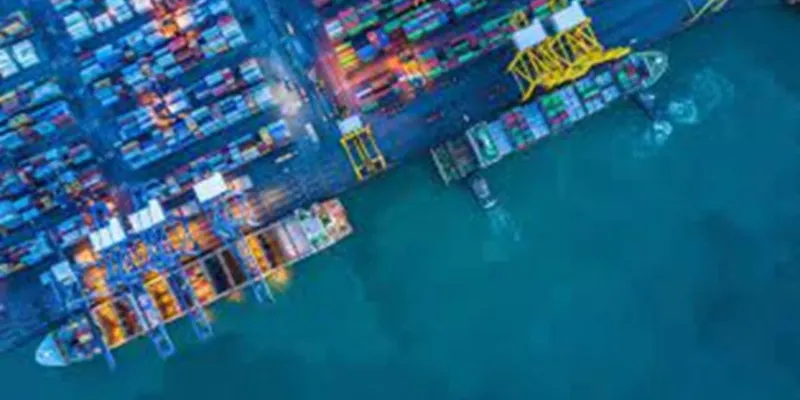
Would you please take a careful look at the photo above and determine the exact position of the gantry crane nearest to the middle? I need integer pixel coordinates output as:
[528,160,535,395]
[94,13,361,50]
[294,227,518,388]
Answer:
[336,109,390,182]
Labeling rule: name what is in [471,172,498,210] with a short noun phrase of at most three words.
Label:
boat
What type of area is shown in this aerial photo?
port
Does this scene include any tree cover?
No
